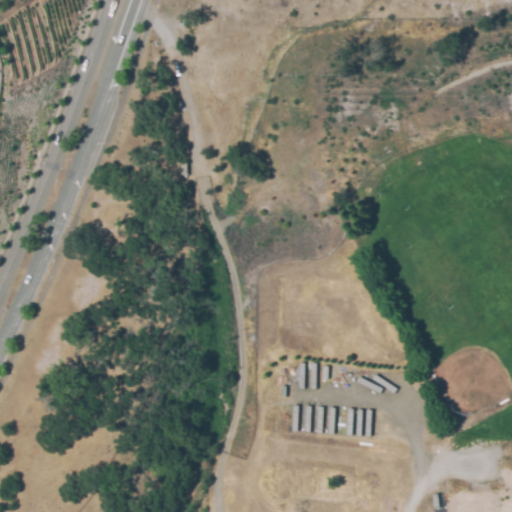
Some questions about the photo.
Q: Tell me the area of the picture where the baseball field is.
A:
right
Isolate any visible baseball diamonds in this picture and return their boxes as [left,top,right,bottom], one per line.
[346,133,512,448]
